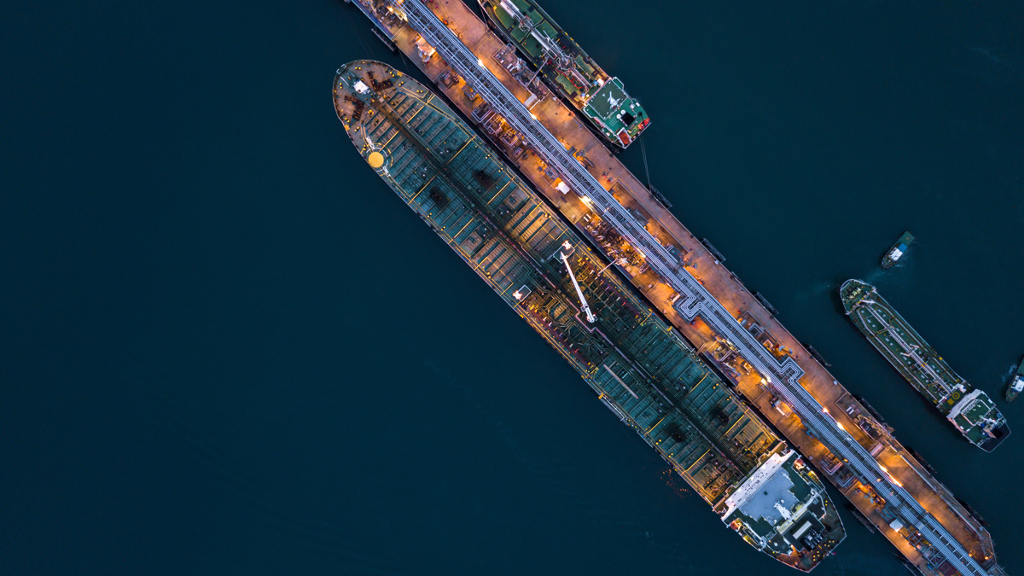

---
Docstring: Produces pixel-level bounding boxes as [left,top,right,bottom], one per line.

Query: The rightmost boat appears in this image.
[1004,357,1024,402]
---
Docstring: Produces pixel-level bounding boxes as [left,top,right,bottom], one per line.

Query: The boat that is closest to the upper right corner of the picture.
[881,229,917,268]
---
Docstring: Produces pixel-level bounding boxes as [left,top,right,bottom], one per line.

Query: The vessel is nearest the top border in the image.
[471,0,652,150]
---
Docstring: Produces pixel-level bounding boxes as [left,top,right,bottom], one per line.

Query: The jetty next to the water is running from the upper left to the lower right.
[351,0,1010,576]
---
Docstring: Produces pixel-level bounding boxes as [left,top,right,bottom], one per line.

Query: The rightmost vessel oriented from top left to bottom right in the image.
[838,280,1012,452]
